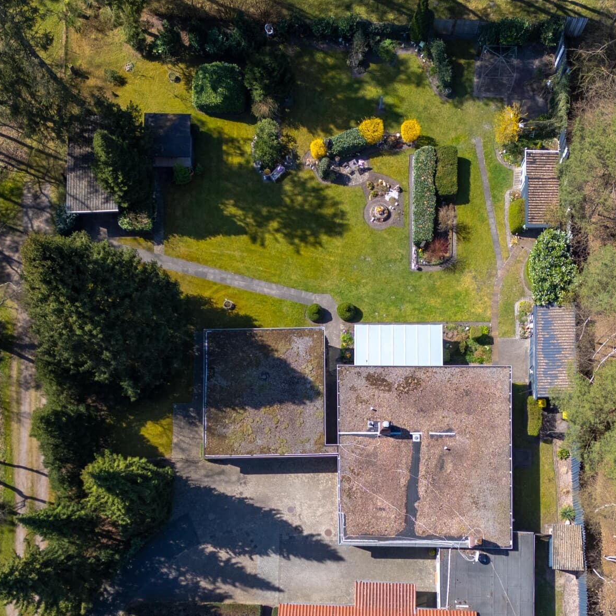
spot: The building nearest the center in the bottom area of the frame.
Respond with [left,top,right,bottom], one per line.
[203,326,338,460]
